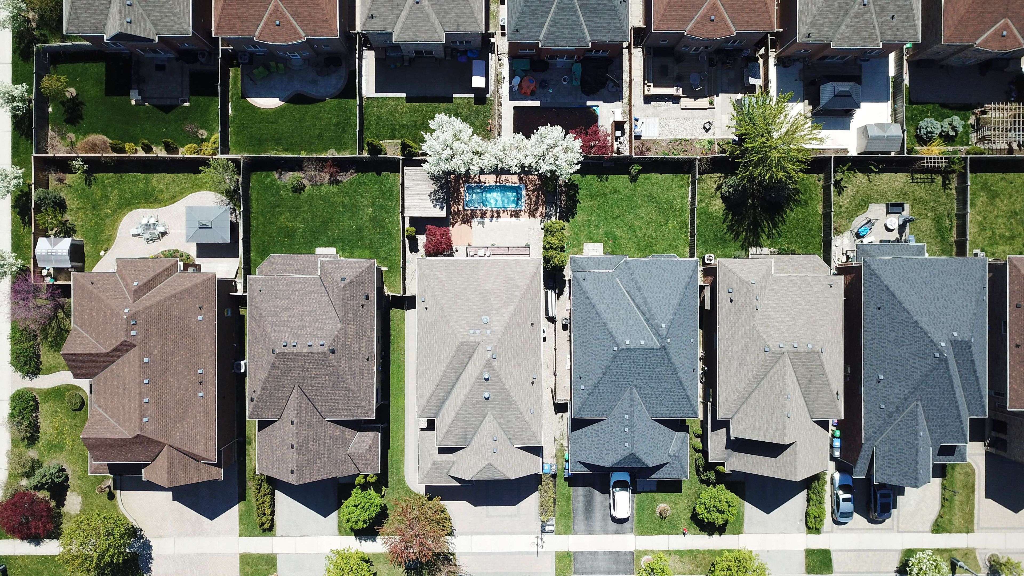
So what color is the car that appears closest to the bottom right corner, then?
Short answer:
black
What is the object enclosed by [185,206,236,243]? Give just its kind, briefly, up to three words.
gazebo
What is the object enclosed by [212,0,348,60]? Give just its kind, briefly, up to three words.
house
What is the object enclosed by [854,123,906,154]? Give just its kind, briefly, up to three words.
shed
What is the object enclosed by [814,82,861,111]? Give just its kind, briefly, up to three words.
gazebo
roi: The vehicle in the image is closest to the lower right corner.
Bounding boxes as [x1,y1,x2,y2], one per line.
[865,473,891,522]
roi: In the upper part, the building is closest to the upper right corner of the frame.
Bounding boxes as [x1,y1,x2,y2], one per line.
[911,0,1024,67]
